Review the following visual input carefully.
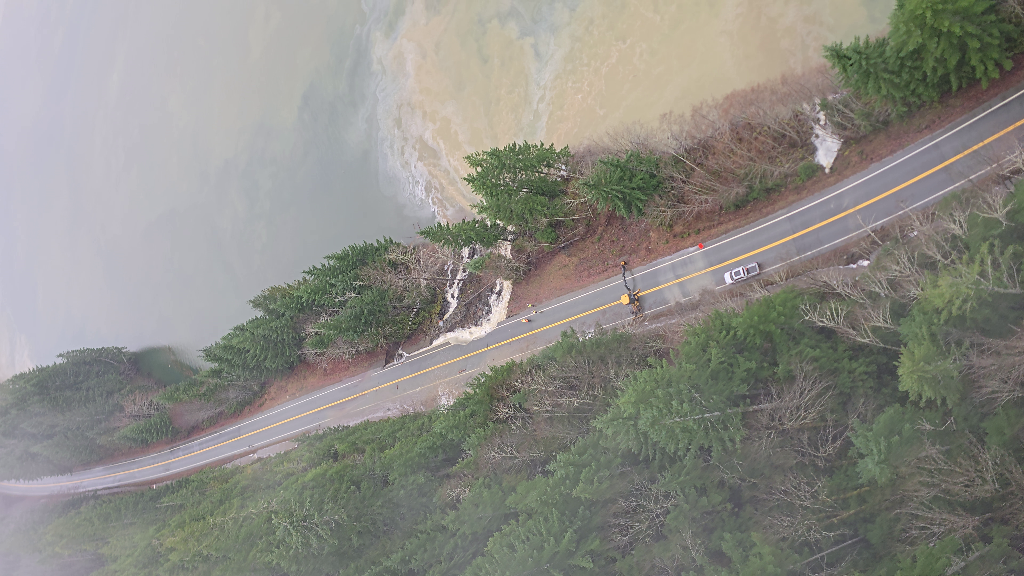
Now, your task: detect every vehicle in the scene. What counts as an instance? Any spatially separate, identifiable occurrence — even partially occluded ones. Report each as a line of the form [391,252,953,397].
[725,262,761,283]
[620,260,645,321]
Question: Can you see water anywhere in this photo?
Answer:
Yes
